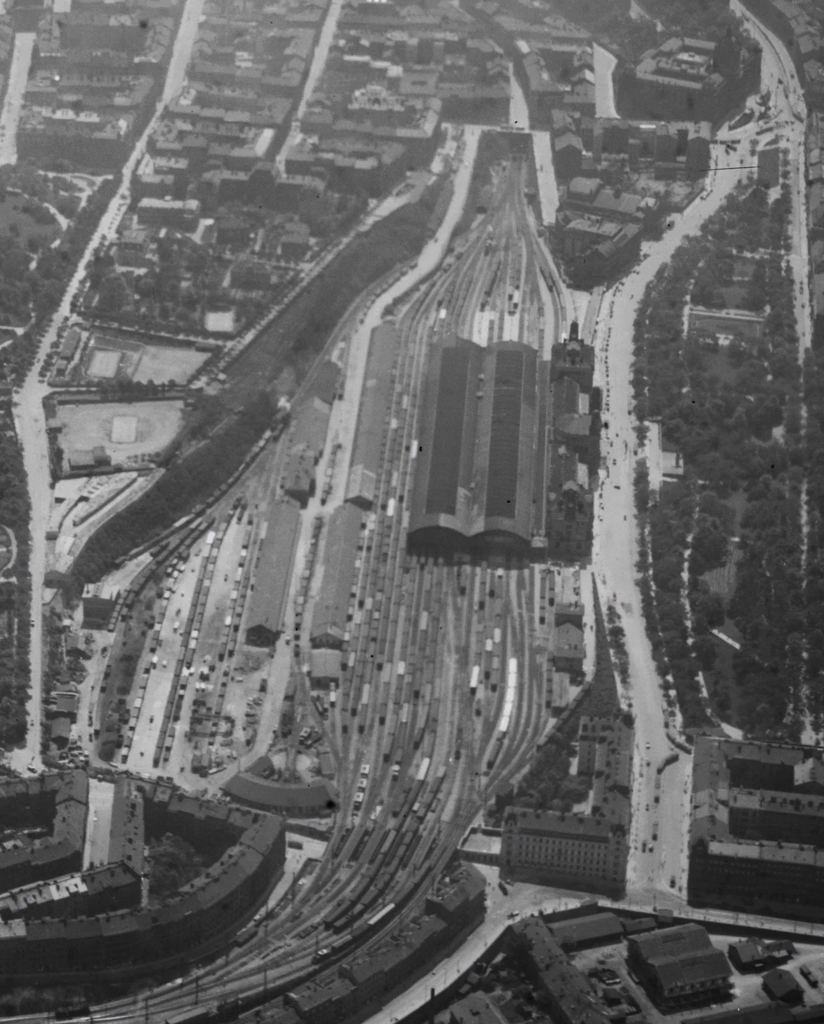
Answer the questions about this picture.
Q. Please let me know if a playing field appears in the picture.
Yes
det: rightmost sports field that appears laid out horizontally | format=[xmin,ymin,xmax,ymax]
[132,346,211,382]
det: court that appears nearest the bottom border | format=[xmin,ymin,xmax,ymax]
[111,417,137,442]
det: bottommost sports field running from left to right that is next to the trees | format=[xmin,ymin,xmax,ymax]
[56,401,184,471]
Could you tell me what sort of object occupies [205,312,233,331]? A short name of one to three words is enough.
sports court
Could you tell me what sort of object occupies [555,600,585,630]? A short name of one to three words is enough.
house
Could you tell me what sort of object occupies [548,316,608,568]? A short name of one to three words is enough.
building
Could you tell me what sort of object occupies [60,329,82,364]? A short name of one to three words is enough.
shed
